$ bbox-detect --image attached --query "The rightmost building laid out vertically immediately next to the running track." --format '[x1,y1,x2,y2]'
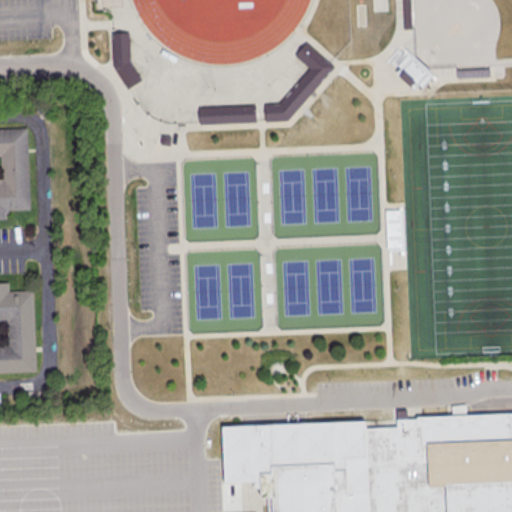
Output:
[113,32,141,87]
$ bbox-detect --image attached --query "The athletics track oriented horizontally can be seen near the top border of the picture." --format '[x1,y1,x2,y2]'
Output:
[132,0,311,65]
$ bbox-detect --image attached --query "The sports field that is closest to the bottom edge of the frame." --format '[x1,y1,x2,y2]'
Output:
[402,96,512,358]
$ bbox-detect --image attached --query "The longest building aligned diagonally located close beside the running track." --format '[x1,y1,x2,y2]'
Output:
[264,42,334,121]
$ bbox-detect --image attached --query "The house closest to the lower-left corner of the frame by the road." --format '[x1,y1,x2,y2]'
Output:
[0,284,37,374]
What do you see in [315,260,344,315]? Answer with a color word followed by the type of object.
blue tennis court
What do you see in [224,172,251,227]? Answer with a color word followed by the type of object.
blue tennis court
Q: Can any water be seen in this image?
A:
No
